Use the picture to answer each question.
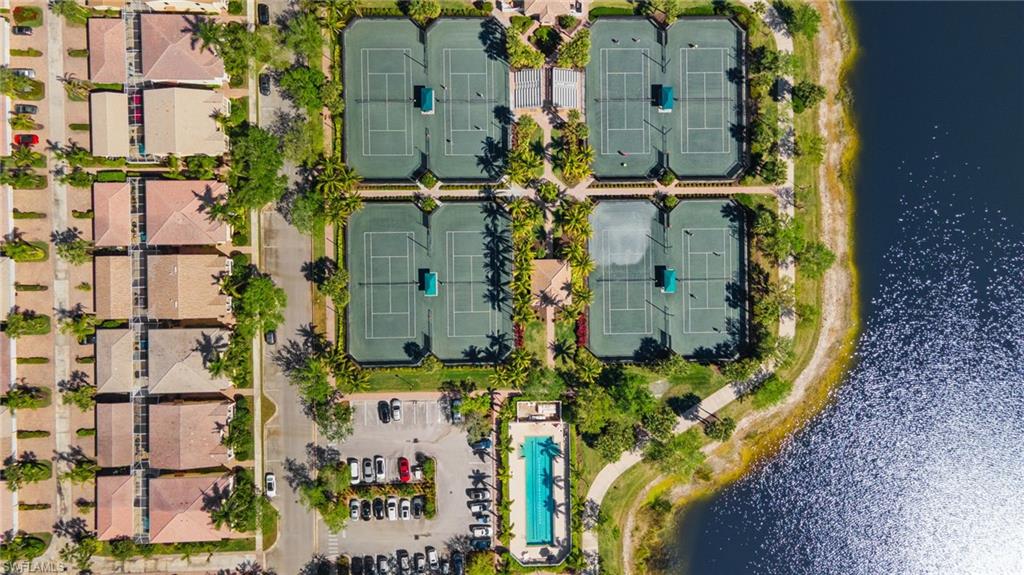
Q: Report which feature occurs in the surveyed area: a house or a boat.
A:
house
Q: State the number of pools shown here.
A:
1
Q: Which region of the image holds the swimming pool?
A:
bottom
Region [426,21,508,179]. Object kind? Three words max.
tennis court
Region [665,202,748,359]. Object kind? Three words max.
tennis court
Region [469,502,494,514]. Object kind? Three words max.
vehicle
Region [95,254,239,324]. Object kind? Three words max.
house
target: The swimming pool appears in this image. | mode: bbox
[509,421,570,565]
